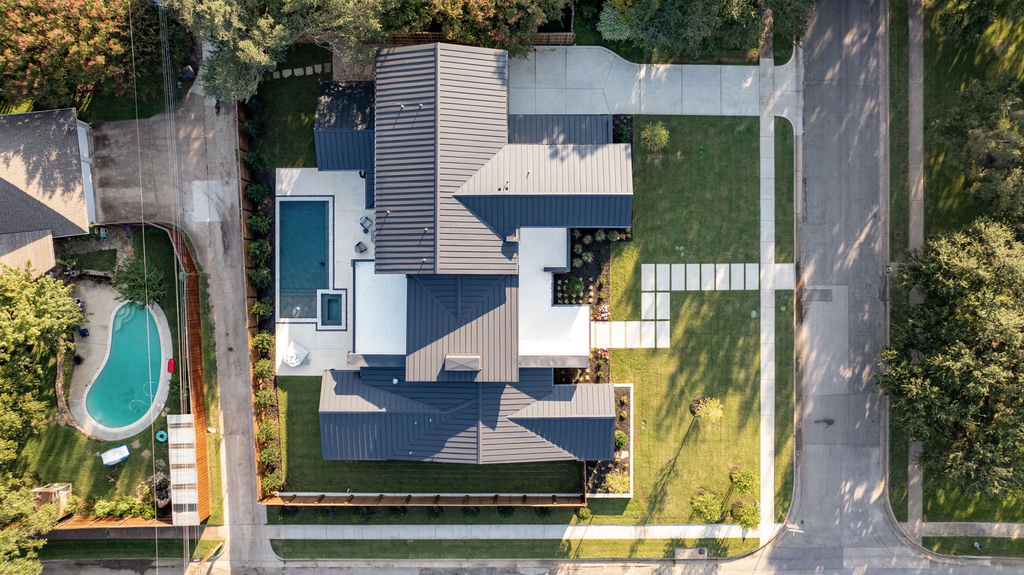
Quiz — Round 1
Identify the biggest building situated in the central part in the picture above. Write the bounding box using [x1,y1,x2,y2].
[314,42,633,464]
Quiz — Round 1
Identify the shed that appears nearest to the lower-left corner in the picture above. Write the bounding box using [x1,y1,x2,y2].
[32,483,73,519]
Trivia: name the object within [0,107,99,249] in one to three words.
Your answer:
house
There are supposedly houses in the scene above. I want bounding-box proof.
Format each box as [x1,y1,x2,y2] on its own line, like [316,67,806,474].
[0,107,99,249]
[314,42,633,464]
